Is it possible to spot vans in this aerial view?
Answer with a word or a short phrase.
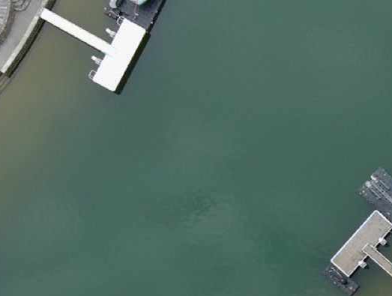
No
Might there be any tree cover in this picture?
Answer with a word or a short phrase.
No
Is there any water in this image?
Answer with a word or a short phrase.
Yes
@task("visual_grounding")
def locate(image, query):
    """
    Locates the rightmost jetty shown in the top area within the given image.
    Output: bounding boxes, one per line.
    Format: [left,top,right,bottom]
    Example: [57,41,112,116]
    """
[128,0,171,32]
